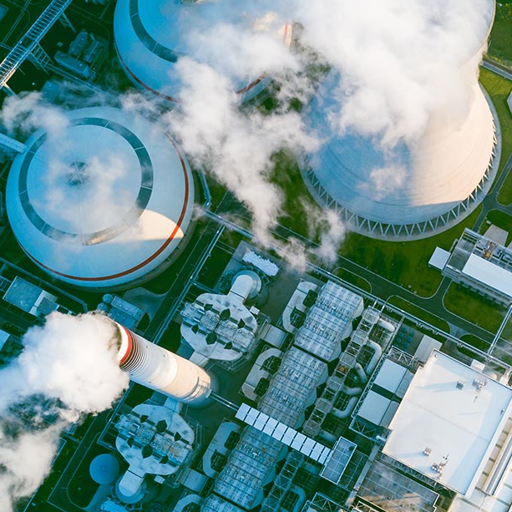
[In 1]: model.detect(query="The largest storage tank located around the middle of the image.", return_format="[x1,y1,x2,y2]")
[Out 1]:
[231,259,272,300]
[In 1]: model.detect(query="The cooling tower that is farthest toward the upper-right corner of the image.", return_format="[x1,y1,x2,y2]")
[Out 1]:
[294,0,499,242]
